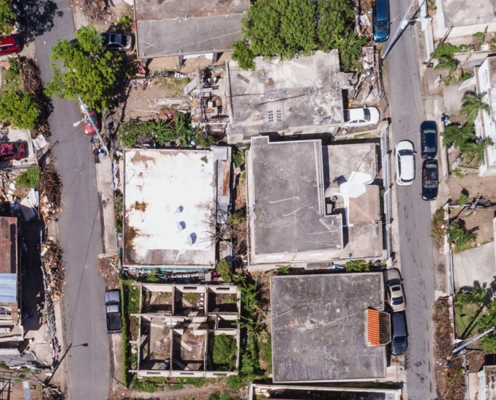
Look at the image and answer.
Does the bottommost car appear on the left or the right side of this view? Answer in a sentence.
The bottommost car sits on the right side.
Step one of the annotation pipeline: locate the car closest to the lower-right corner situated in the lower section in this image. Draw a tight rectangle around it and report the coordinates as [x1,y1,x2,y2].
[387,313,411,355]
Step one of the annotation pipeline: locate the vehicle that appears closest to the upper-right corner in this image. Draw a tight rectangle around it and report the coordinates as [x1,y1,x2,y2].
[369,0,393,43]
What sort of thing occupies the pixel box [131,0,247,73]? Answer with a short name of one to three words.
house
